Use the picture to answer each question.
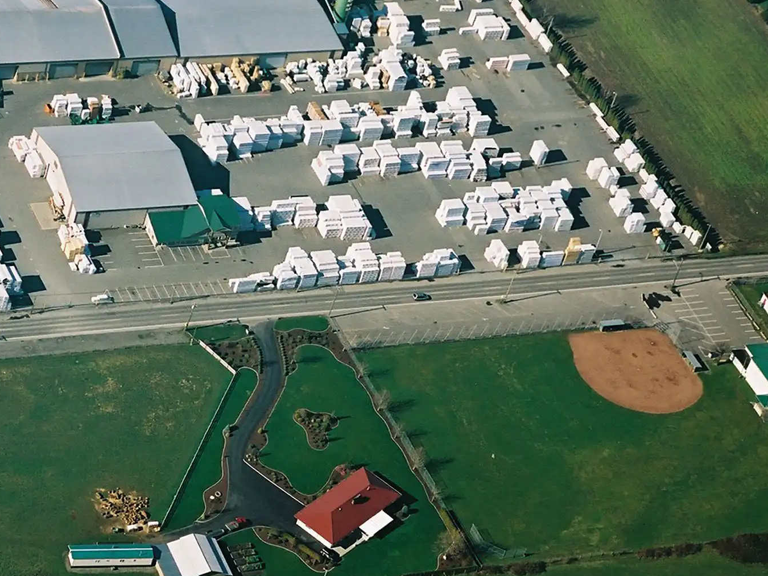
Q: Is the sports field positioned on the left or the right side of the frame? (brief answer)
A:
right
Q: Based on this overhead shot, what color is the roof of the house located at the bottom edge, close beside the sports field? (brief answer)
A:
red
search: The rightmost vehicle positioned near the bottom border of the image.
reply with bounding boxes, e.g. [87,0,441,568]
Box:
[320,545,345,561]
